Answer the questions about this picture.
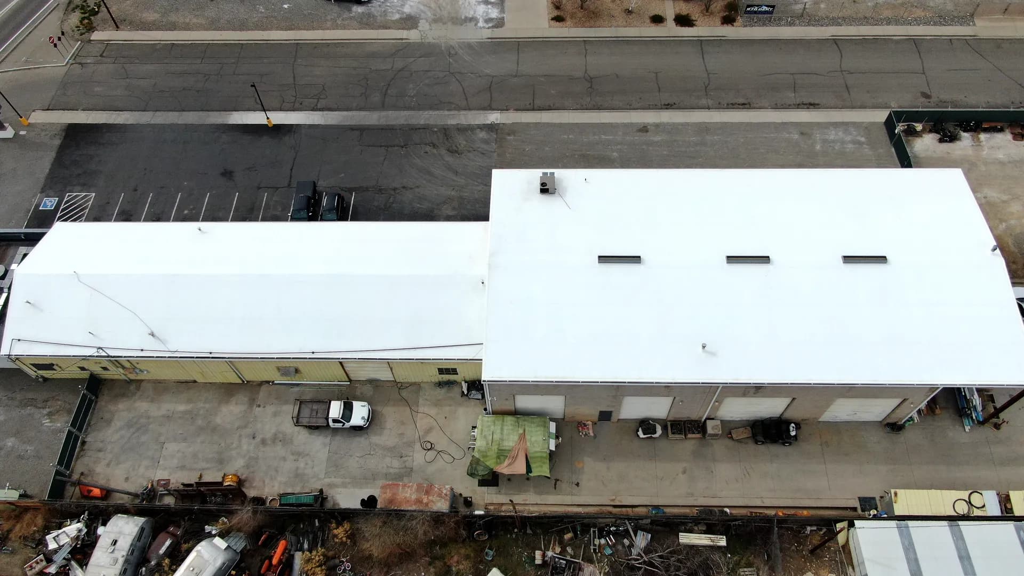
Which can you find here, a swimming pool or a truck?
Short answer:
truck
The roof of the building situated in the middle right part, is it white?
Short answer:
Yes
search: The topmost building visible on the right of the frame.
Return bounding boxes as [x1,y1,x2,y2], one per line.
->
[481,168,1024,428]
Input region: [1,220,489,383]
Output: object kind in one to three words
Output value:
building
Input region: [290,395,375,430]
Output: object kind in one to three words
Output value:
truck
